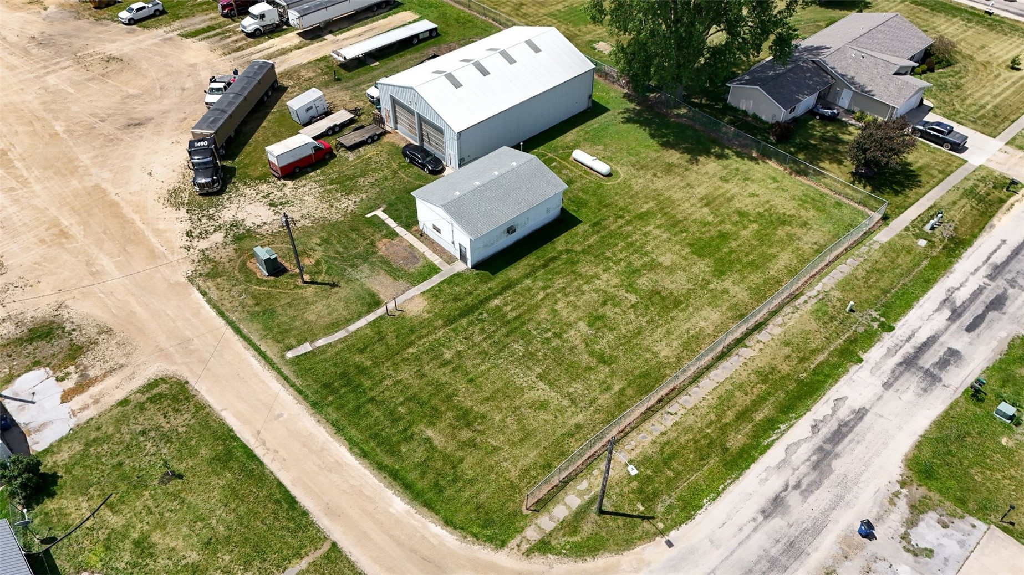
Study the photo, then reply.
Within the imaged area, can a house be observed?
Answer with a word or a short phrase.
Yes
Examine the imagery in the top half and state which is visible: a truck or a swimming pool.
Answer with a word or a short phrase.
truck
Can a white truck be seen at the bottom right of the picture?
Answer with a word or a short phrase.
No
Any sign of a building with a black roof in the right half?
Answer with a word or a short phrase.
Yes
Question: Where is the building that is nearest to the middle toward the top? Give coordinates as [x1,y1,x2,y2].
[407,142,570,268]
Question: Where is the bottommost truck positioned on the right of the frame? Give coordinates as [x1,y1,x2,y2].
[911,120,970,150]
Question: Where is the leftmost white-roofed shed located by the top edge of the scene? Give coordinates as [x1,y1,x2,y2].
[376,26,595,170]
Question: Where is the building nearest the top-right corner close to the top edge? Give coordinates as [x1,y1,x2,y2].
[776,12,934,129]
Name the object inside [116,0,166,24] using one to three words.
truck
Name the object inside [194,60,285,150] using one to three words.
trailer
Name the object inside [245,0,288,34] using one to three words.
truck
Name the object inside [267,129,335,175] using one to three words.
van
